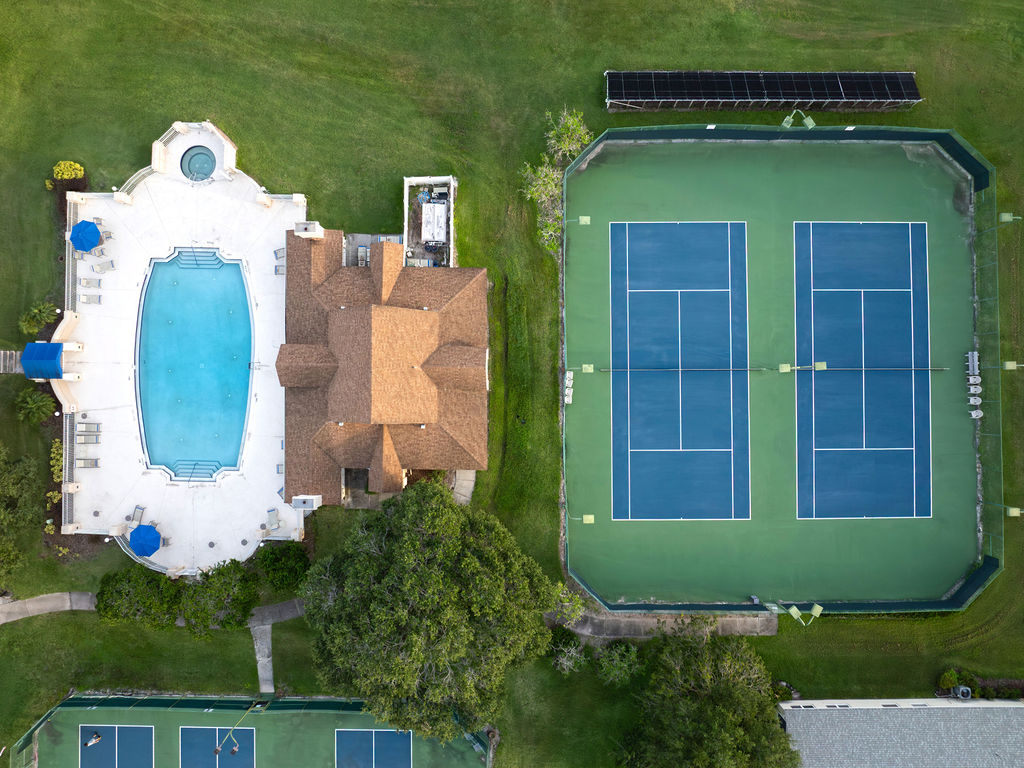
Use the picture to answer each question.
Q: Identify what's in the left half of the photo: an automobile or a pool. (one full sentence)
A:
The feature located in the left half of the photo is a pool.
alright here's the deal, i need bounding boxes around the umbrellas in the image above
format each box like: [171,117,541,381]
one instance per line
[129,524,164,556]
[68,219,106,253]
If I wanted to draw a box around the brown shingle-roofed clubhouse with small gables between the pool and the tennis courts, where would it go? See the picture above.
[276,221,489,509]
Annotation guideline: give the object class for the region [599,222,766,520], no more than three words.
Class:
tennis court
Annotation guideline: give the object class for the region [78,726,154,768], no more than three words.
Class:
sports court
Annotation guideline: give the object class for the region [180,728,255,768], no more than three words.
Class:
sports court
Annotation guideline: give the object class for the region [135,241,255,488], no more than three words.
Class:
swimming pool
